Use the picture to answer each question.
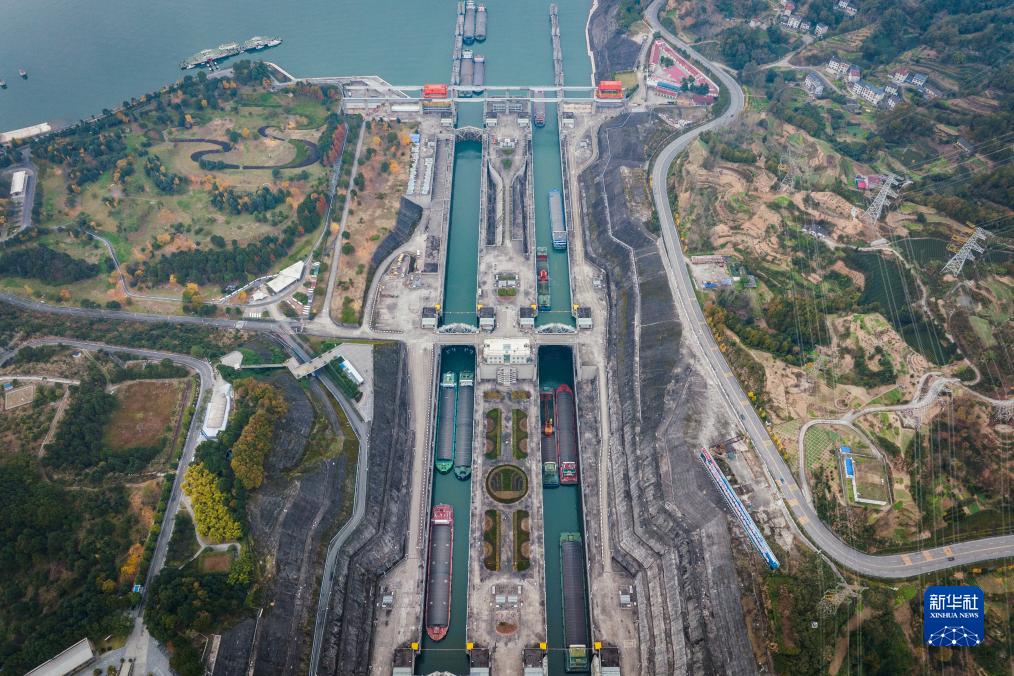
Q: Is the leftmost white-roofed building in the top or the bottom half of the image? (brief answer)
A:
top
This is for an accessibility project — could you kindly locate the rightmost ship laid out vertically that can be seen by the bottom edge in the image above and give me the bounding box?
[560,531,591,668]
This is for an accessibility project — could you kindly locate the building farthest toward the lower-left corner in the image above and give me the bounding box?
[15,634,99,676]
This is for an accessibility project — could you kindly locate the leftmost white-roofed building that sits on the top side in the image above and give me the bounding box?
[5,176,27,200]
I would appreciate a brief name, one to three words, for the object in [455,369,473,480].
ship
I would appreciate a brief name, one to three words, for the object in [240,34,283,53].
pier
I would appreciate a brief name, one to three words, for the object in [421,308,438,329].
house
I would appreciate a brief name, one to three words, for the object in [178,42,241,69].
pier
